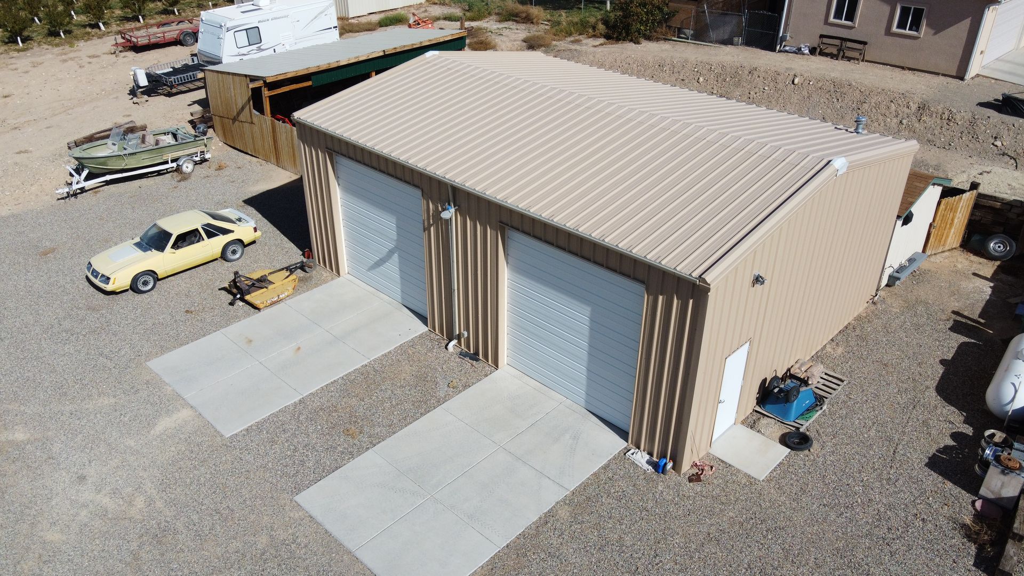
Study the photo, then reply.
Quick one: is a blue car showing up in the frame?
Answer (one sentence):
No, the frame has no blue car in it.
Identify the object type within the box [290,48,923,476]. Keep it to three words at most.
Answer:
building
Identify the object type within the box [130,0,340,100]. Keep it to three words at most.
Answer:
trailer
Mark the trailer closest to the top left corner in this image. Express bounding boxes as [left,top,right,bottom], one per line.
[104,16,199,55]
